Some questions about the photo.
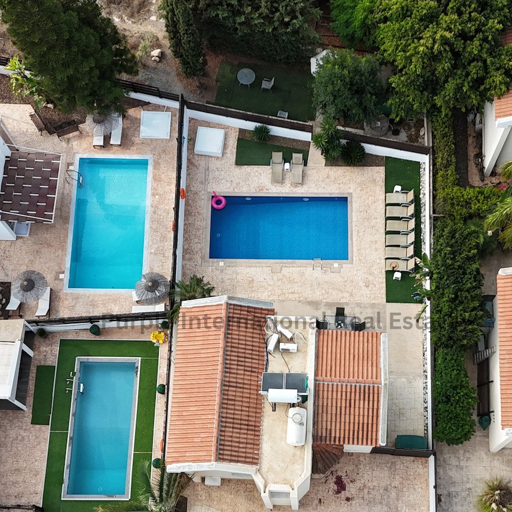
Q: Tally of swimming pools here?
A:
3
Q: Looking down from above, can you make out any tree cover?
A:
Yes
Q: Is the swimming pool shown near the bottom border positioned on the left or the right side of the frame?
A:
left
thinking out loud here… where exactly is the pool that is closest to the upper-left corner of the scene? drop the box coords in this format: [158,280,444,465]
[58,154,156,293]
